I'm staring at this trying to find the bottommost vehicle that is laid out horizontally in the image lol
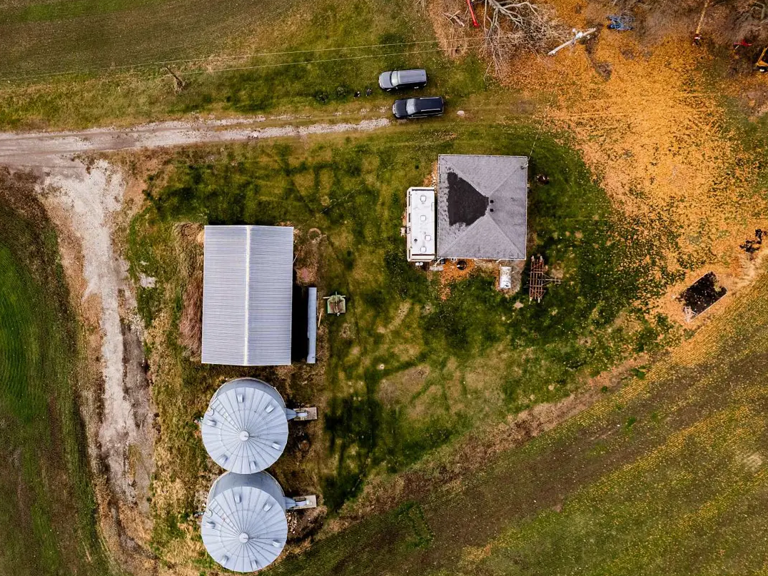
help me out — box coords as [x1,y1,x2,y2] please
[392,95,445,120]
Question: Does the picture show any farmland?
Yes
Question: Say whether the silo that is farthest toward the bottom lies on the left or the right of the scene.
left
